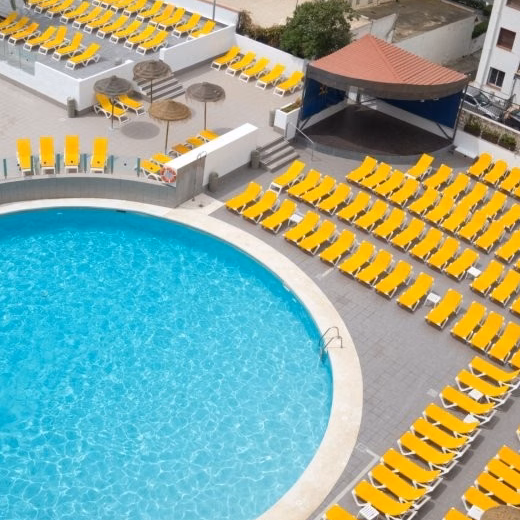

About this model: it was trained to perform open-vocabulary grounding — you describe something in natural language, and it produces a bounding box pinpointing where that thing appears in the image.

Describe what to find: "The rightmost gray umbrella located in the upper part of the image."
[187,81,229,130]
